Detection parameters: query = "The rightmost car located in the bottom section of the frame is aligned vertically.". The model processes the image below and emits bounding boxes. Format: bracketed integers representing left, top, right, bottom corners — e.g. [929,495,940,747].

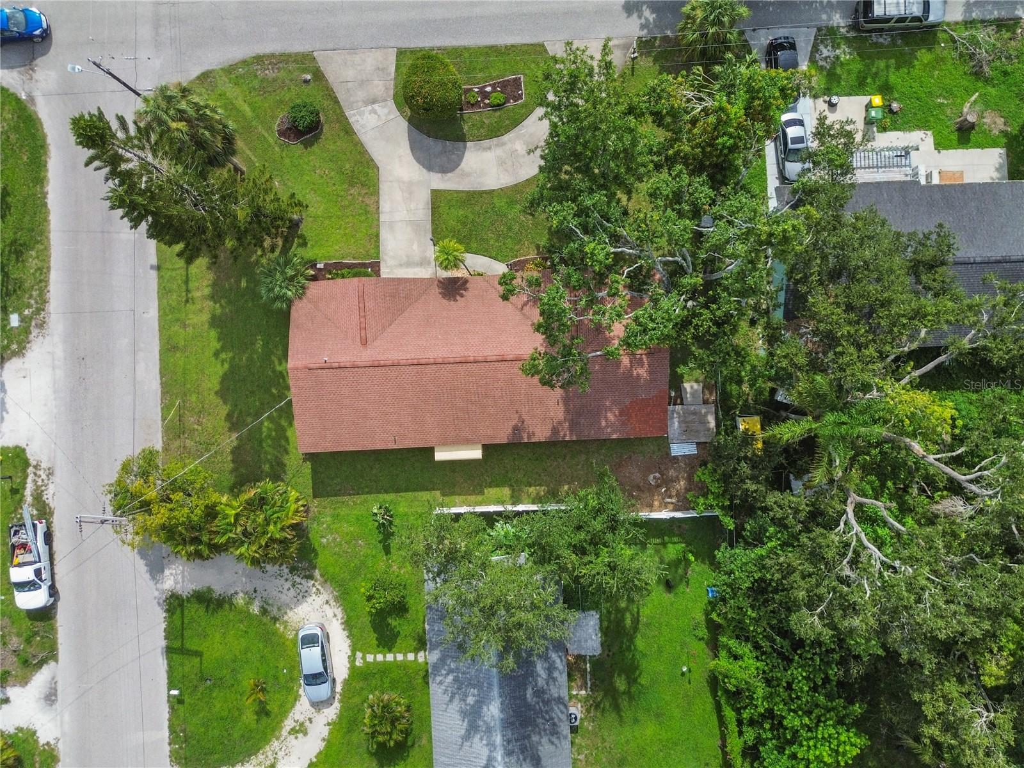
[294,623,337,708]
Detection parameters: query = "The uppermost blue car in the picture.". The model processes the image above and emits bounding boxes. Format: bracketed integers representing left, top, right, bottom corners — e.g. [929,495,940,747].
[0,2,49,48]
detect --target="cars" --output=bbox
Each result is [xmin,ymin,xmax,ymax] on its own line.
[761,31,802,86]
[294,623,337,708]
[853,0,941,32]
[775,109,811,183]
[0,2,49,48]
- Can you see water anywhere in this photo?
No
